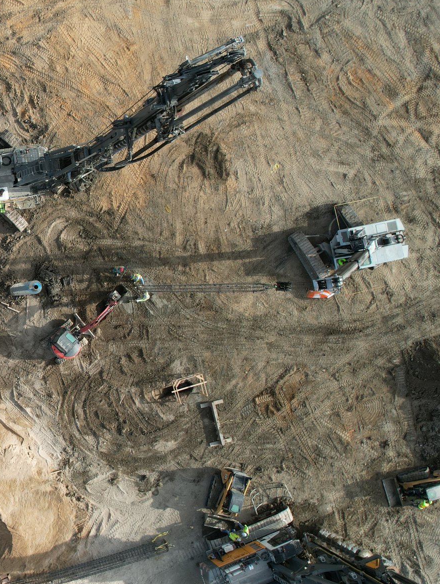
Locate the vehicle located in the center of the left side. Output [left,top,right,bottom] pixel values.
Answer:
[39,290,121,366]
